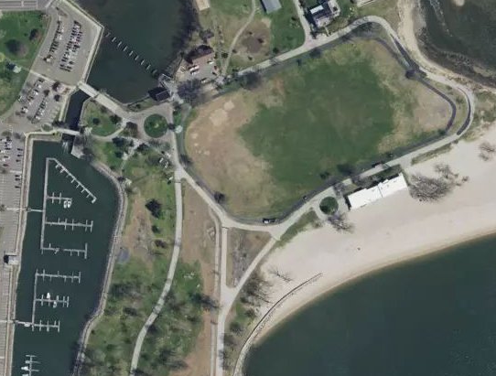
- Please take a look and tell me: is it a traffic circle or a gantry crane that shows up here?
traffic circle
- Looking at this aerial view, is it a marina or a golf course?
marina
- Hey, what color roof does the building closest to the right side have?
white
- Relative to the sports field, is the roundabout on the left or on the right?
on the left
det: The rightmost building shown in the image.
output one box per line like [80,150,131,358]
[379,173,408,197]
